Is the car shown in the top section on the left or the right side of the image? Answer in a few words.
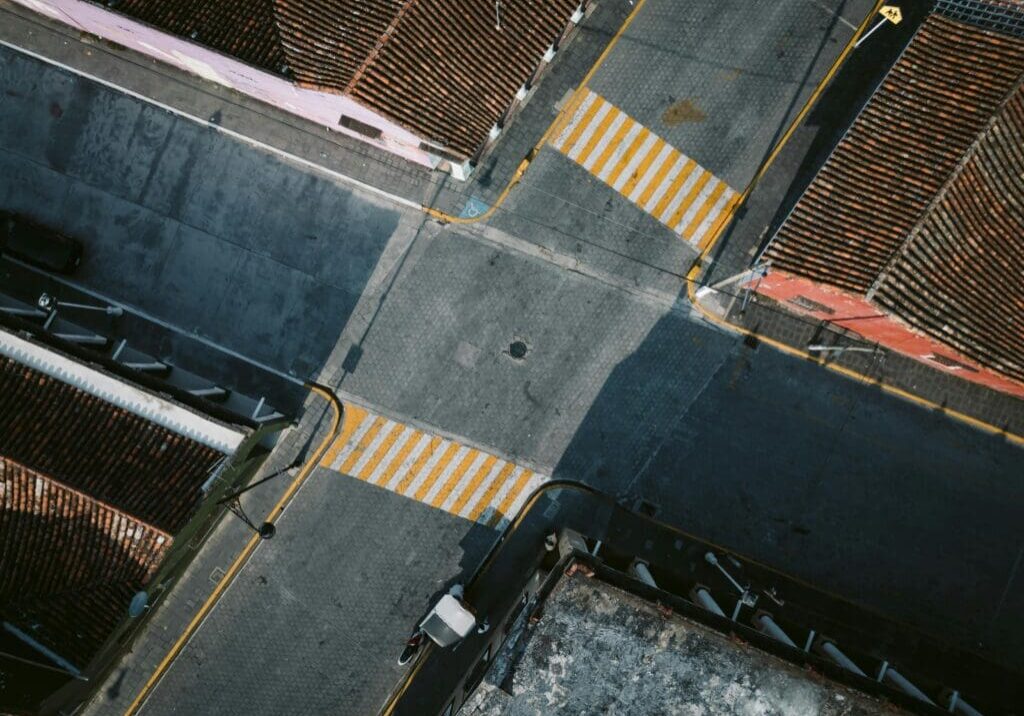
left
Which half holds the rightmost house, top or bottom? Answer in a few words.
top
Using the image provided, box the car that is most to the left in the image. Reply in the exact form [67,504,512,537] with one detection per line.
[0,208,77,268]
